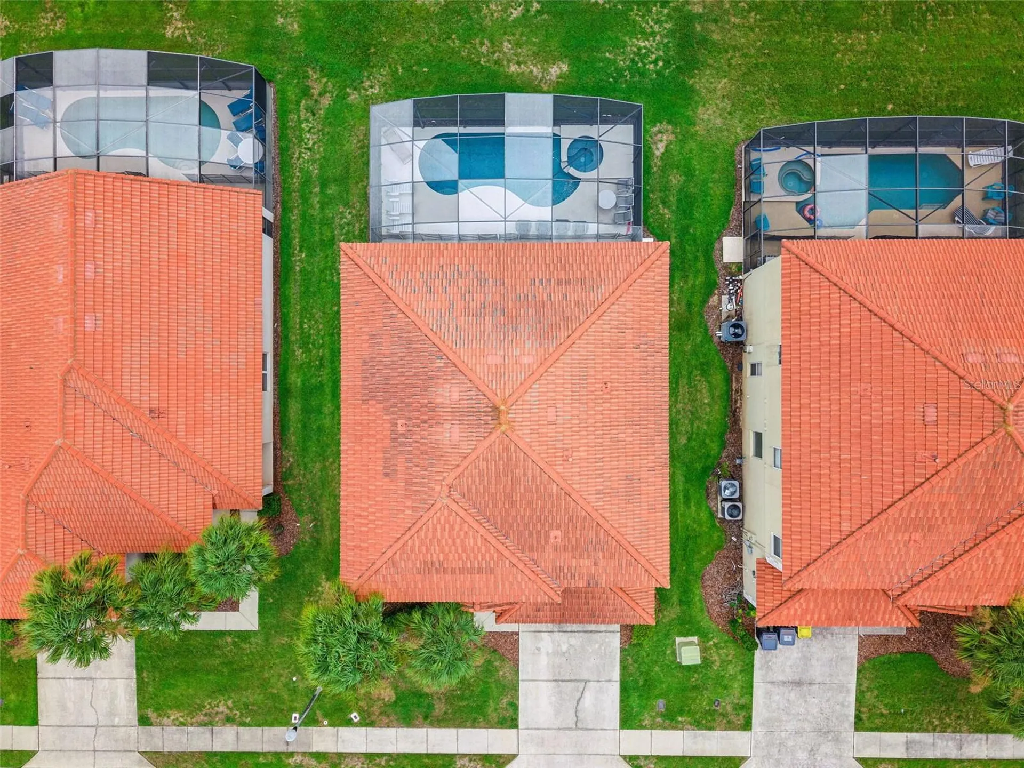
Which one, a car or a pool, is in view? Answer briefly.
pool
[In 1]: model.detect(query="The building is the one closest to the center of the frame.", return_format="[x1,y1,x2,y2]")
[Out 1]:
[337,239,673,628]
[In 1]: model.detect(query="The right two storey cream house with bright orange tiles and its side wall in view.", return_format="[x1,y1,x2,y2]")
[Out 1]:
[741,236,1024,629]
